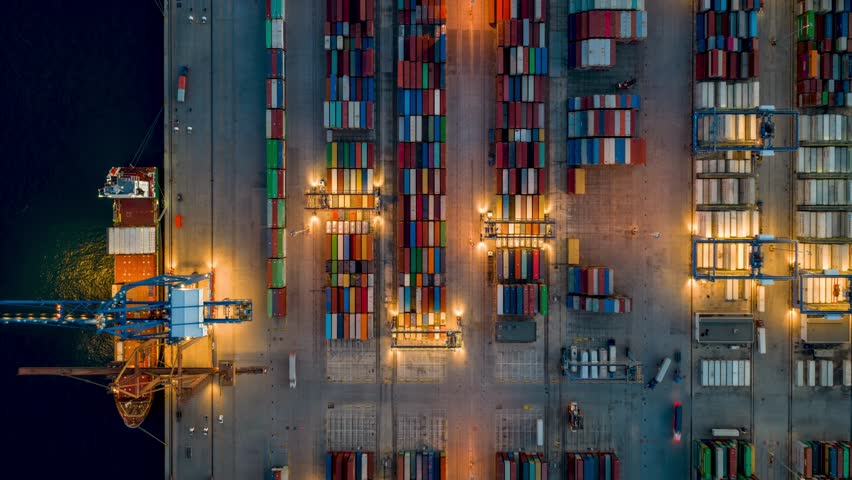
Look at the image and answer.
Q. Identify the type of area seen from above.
port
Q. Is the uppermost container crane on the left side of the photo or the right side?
right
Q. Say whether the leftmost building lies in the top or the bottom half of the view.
bottom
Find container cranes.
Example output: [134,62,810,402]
[561,346,641,381]
[790,260,852,319]
[691,105,798,157]
[305,186,381,215]
[389,317,462,354]
[18,329,265,398]
[0,265,254,346]
[691,227,798,285]
[479,214,556,242]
